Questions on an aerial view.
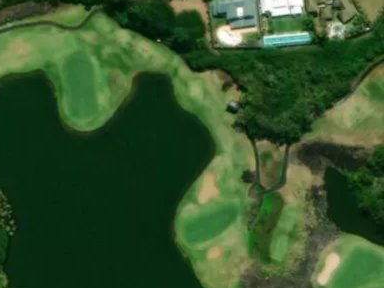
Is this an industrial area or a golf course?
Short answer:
golf course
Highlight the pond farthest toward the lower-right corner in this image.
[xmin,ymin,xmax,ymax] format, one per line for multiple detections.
[325,163,384,246]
